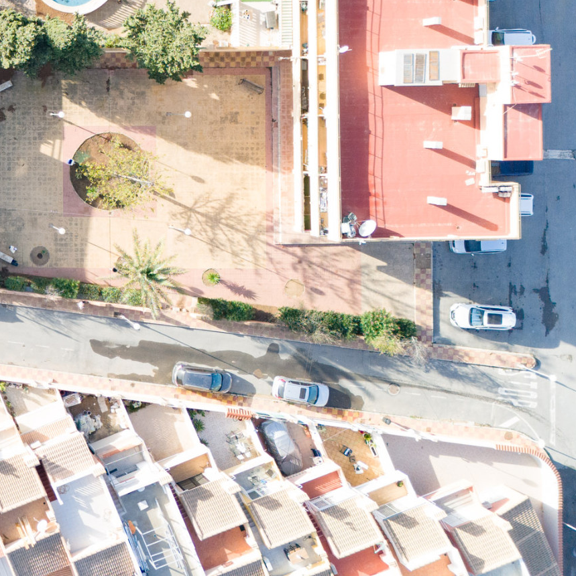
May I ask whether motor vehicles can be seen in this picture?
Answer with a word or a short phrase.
Yes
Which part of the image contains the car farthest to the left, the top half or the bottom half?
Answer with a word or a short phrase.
bottom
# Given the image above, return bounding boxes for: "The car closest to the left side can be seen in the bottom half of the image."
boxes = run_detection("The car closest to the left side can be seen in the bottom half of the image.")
[170,362,233,396]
